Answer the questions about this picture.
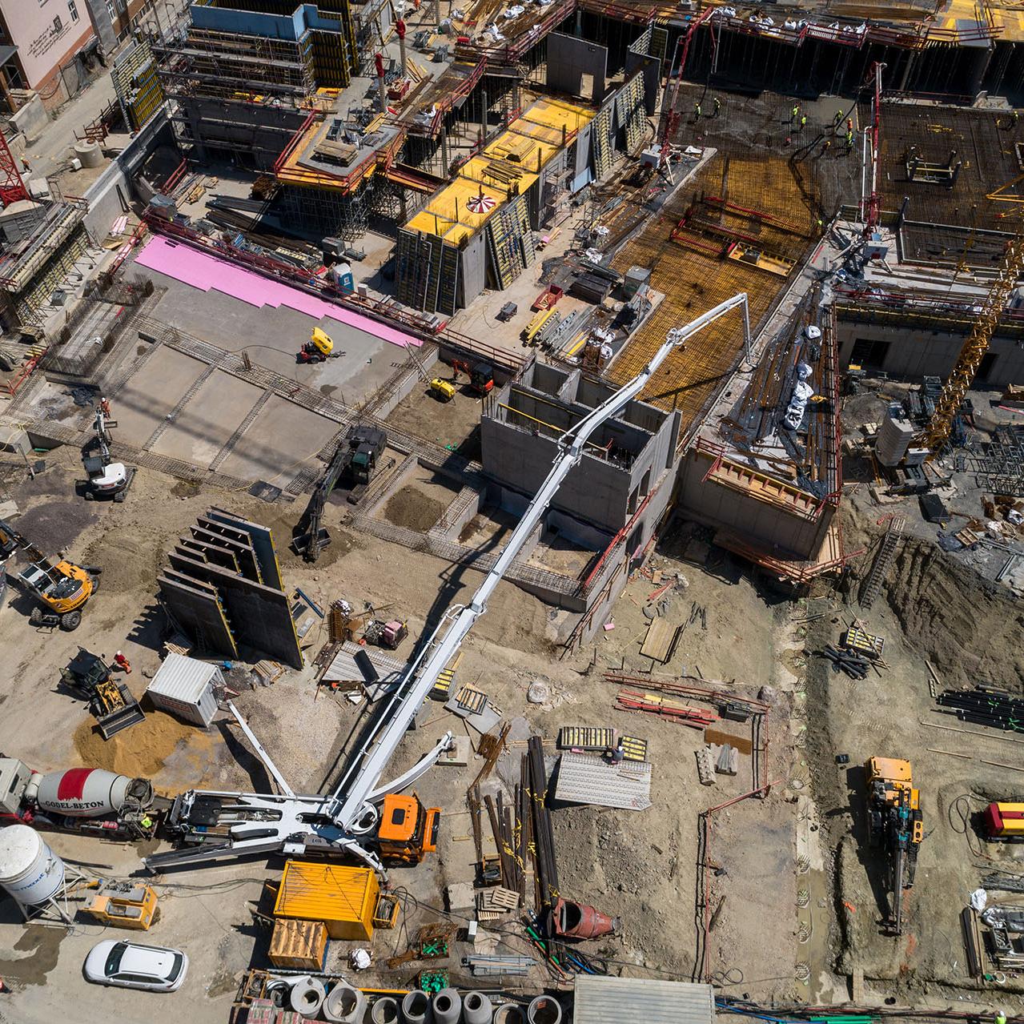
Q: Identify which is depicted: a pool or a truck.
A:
truck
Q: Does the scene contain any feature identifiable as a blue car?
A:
No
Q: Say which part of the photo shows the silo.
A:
bottom left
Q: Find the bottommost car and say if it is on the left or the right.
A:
left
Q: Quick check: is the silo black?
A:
No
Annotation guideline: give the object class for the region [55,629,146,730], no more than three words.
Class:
work vehicle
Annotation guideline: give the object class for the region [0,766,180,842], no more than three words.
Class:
truck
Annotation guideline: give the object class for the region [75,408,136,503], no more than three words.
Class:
work vehicle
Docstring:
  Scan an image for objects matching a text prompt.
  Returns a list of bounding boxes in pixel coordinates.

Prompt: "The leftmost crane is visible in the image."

[0,124,20,208]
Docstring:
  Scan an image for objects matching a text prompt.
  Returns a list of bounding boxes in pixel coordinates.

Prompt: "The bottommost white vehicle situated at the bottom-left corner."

[79,932,188,988]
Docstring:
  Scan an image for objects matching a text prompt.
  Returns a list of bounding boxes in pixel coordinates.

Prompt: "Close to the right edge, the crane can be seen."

[859,176,1024,501]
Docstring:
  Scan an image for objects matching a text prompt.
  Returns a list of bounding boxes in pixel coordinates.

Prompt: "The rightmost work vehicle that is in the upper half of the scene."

[451,358,499,396]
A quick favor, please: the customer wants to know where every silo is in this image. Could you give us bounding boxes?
[0,829,76,924]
